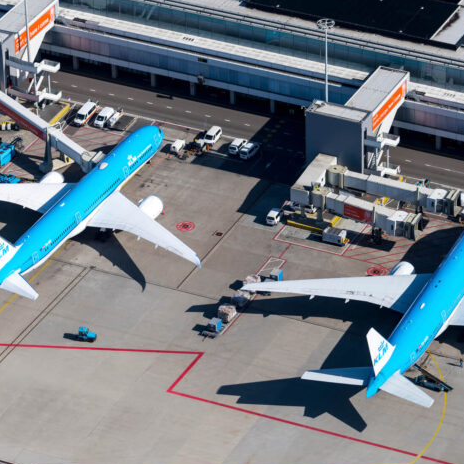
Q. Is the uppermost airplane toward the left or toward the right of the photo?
left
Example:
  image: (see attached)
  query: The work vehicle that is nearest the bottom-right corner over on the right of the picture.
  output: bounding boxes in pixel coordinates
[413,366,456,394]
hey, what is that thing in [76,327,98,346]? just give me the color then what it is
blue work vehicle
